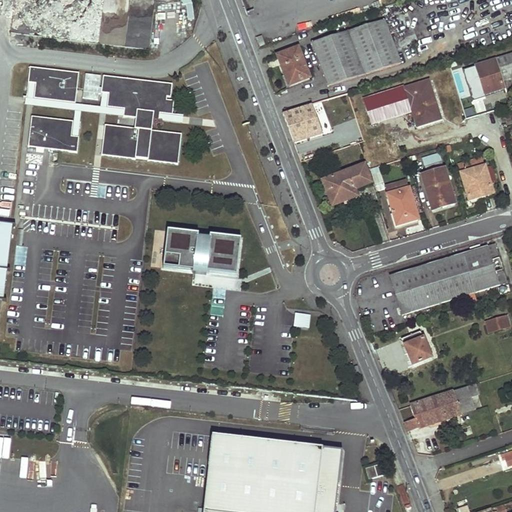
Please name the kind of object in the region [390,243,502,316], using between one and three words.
shed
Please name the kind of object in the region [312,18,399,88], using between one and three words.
building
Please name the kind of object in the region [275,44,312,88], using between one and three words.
house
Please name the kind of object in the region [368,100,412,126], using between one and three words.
barn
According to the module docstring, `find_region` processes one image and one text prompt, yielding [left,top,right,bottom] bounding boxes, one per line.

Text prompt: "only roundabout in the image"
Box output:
[306,248,354,299]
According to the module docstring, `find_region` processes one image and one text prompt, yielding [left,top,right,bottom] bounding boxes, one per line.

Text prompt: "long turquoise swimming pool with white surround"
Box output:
[452,67,470,99]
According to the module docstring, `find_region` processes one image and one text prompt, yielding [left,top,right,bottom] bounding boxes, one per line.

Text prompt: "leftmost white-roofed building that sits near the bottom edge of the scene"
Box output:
[202,431,323,512]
